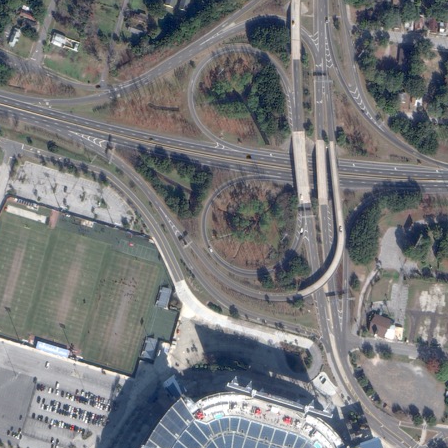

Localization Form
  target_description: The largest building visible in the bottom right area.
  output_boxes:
[369,315,395,339]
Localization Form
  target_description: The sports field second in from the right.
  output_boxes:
[26,237,102,351]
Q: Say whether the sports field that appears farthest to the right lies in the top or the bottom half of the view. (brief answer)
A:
bottom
